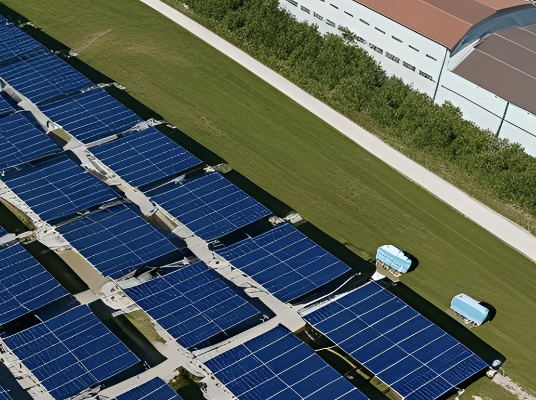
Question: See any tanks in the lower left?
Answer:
No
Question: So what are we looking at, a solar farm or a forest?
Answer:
solar farm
